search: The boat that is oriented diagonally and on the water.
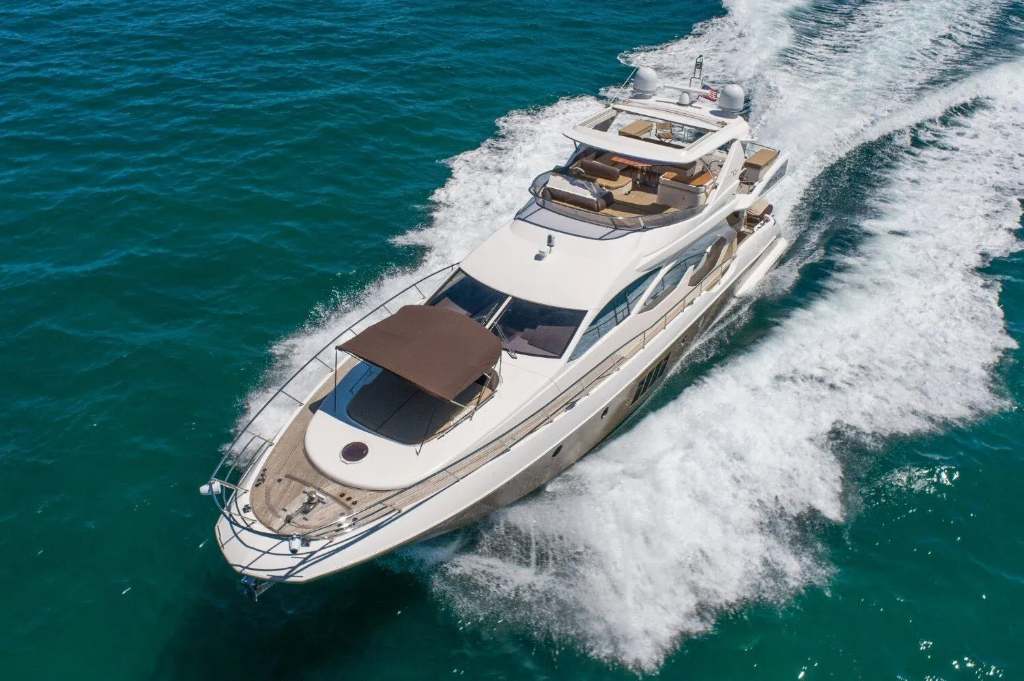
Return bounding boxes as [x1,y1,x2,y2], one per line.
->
[190,54,794,605]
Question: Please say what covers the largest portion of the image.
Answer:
water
